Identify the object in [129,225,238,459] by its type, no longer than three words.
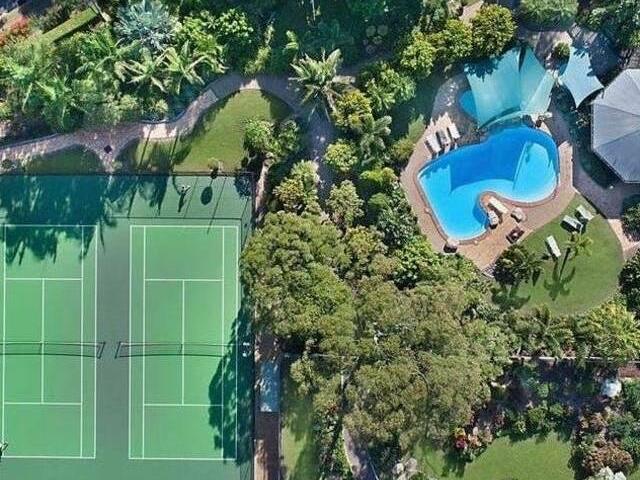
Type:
tennis court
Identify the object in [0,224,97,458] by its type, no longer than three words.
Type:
tennis court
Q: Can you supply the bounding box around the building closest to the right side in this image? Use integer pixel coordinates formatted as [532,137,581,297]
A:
[583,71,640,178]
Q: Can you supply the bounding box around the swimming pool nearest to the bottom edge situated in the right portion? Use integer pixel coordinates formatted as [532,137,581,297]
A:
[414,122,562,245]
